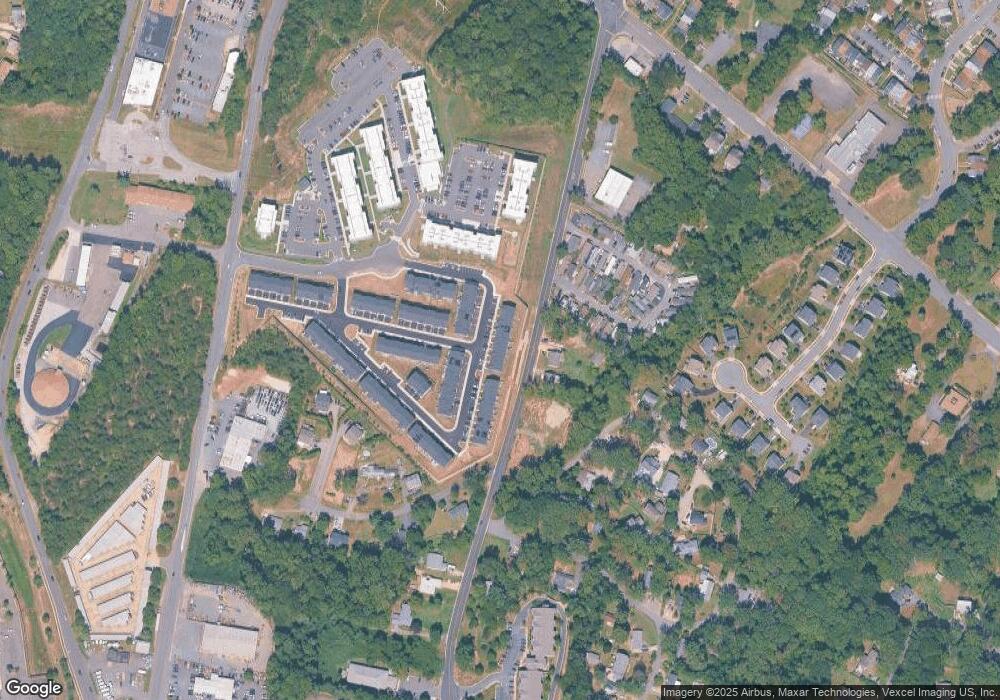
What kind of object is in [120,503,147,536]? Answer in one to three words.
building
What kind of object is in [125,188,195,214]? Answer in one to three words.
shed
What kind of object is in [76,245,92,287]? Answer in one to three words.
building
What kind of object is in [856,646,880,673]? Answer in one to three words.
house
